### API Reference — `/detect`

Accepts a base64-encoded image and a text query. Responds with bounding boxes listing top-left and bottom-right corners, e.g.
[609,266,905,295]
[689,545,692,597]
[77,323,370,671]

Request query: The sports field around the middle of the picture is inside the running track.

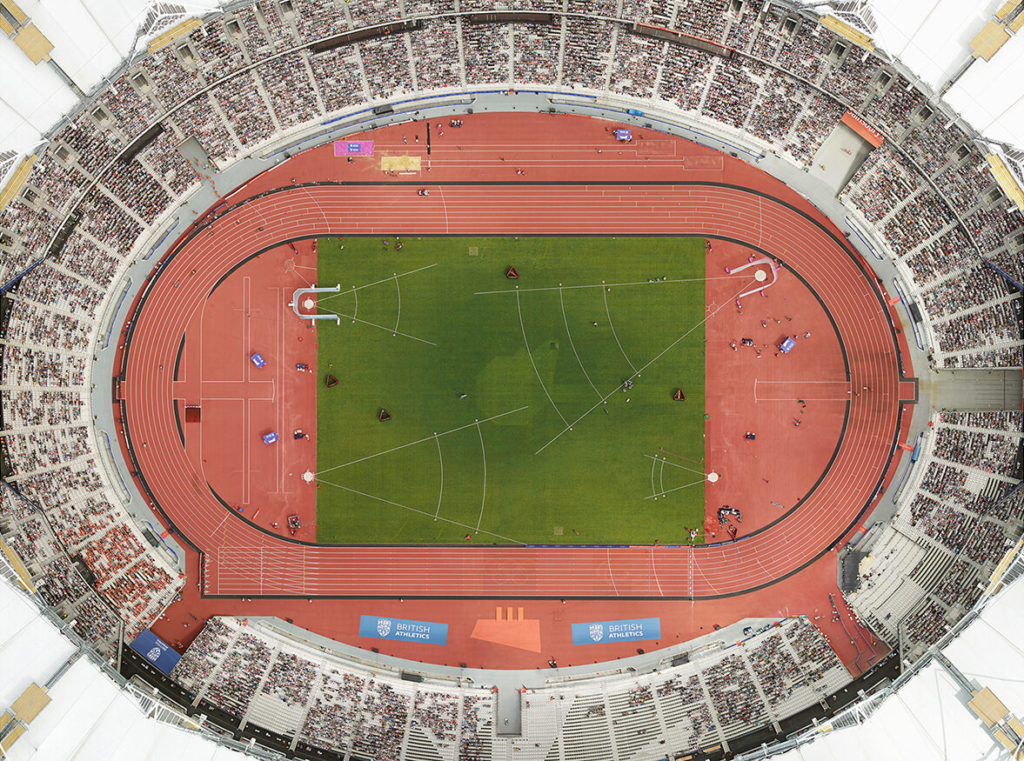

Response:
[315,238,755,545]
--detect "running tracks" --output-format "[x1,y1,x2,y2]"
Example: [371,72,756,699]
[110,111,921,670]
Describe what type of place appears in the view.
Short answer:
sports ground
